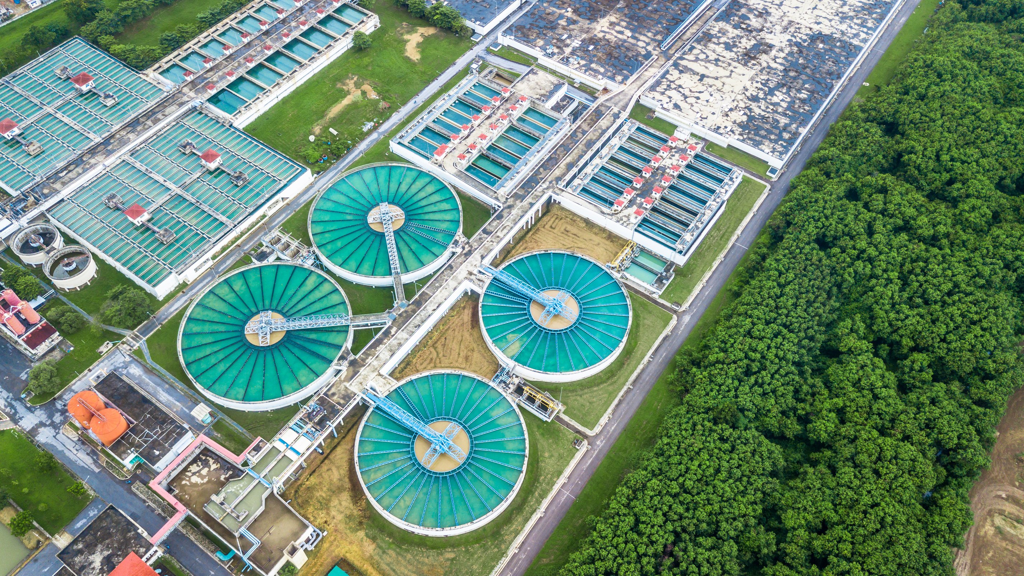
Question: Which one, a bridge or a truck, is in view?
bridge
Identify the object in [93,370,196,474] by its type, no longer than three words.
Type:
building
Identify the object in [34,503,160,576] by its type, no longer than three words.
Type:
building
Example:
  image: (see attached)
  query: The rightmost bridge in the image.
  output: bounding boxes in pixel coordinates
[487,265,578,323]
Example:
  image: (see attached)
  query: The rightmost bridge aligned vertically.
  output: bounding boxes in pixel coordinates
[367,198,406,275]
